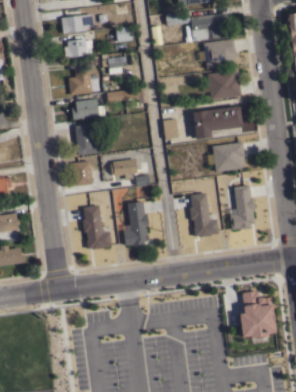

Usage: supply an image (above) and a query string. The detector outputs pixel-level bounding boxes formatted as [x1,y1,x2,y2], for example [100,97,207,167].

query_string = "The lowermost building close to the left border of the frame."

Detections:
[0,246,25,266]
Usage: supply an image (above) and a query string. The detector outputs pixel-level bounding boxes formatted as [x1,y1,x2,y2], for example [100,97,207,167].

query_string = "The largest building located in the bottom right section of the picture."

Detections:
[242,290,279,344]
